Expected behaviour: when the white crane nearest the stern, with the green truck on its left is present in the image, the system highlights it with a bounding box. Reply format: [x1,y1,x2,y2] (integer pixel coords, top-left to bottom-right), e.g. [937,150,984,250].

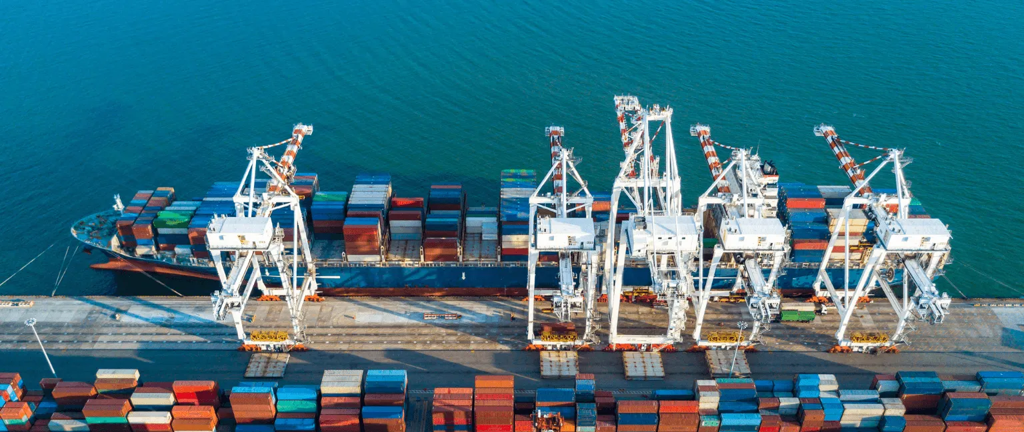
[804,123,951,354]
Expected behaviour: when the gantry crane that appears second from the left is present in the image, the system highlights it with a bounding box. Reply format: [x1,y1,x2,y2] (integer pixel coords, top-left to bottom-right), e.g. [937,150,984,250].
[520,122,606,352]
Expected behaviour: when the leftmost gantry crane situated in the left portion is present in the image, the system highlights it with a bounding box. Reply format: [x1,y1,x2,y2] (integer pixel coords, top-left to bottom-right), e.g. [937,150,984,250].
[204,122,323,350]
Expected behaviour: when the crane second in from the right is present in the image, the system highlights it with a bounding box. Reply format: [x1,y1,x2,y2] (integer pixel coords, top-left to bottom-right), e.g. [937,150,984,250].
[682,124,788,352]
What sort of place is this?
port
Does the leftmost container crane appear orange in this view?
No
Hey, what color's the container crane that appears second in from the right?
white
